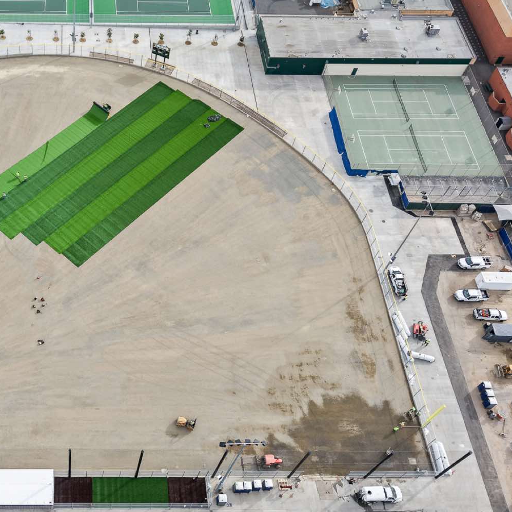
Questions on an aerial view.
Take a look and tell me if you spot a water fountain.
No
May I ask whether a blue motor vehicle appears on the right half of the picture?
No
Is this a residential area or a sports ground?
sports ground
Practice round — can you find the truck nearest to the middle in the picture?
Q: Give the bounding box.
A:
[388,268,411,297]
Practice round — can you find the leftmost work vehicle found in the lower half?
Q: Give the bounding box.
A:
[173,417,200,434]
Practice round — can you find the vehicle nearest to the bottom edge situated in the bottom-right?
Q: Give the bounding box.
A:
[348,486,404,505]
